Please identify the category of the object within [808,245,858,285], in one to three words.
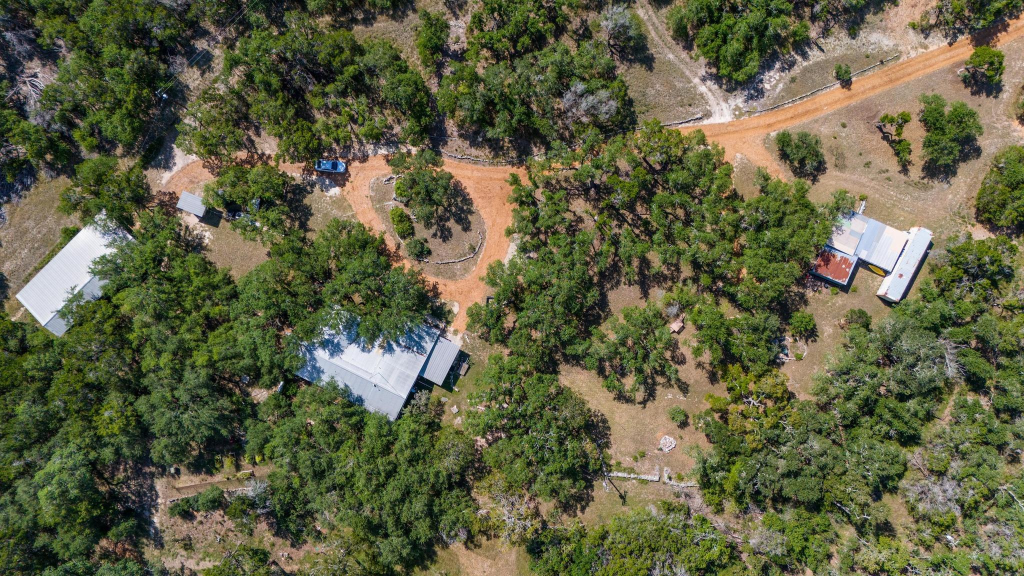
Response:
shed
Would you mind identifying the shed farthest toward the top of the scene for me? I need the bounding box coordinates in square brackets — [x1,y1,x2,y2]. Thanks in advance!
[177,191,213,217]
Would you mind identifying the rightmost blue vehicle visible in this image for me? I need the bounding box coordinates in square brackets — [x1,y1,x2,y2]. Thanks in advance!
[314,159,345,173]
